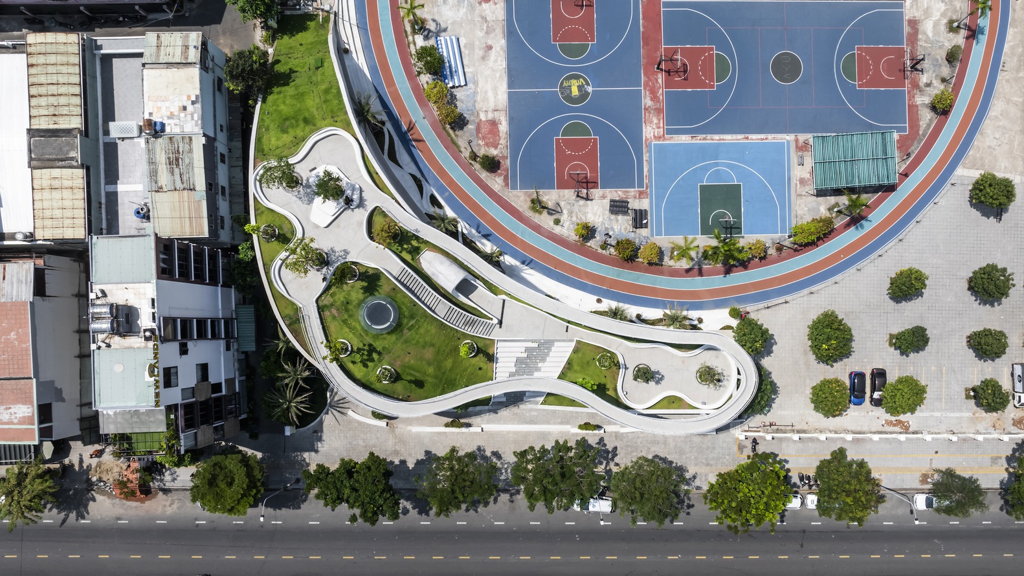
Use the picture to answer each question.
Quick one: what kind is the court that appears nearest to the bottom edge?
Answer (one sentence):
It turns out the court that appears nearest to the bottom edge is a basketball court.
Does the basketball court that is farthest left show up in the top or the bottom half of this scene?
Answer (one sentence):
The top half of the photo is where the basketball court that is farthest left is.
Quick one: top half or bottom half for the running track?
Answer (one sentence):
The running track is in the top half of the image.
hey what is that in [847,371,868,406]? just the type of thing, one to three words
car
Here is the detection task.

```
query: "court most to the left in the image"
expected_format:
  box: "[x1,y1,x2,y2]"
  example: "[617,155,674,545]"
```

[505,0,645,190]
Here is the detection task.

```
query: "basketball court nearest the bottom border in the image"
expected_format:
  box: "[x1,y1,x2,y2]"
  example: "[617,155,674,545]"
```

[649,140,792,237]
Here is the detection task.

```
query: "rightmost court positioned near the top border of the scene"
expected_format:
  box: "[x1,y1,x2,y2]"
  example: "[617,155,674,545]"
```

[661,0,908,136]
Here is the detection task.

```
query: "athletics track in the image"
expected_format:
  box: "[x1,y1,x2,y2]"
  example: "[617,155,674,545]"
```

[355,0,1011,311]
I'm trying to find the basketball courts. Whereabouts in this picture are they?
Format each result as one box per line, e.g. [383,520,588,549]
[505,0,645,190]
[661,0,908,136]
[649,140,792,237]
